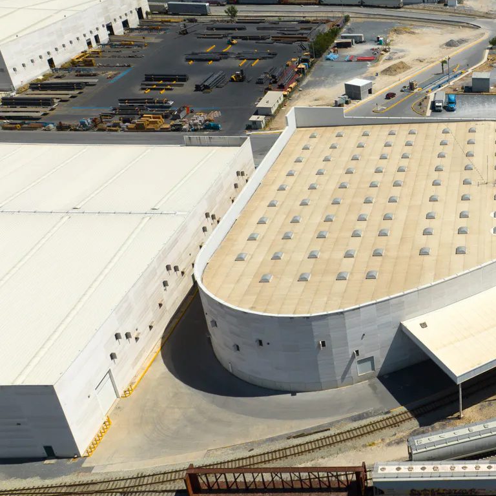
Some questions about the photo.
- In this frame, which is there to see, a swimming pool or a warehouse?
warehouse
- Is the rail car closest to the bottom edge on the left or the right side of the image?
right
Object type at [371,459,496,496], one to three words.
rail car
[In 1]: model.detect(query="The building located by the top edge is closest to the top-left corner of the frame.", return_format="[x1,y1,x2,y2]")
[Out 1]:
[0,0,150,89]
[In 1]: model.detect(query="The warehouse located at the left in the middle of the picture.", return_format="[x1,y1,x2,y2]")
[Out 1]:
[0,128,256,466]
